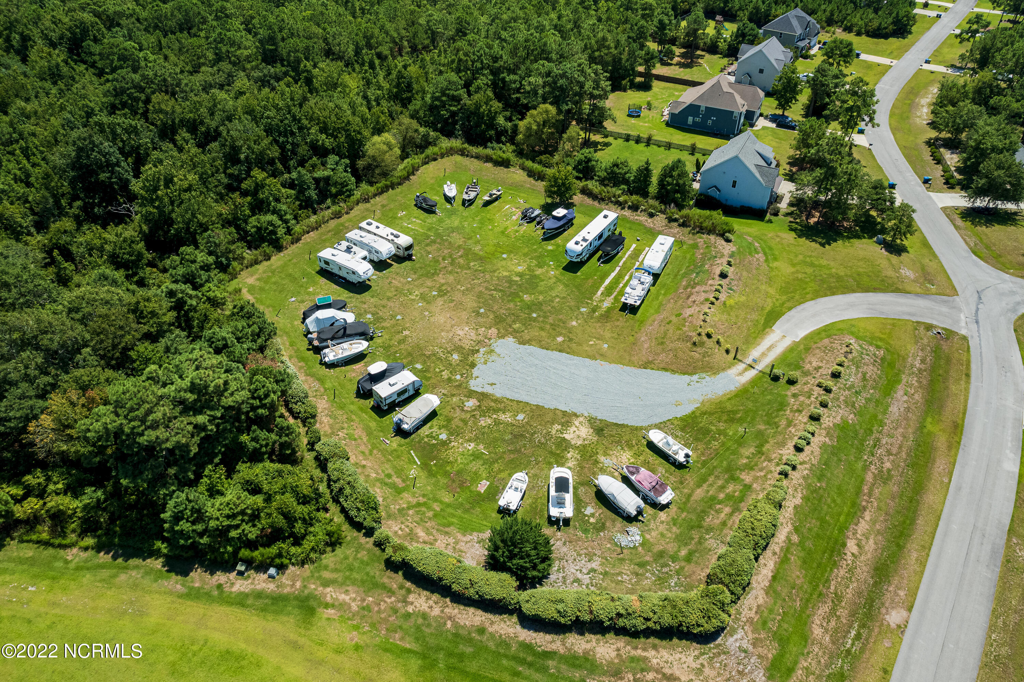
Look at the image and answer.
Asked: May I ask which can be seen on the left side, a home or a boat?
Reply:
boat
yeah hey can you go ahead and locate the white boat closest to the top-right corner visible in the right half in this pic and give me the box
[623,265,653,305]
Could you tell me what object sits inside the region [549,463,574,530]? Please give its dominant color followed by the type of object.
white boat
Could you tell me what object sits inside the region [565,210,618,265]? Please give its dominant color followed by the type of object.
white camper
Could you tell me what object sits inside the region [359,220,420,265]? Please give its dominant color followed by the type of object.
white vehicle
